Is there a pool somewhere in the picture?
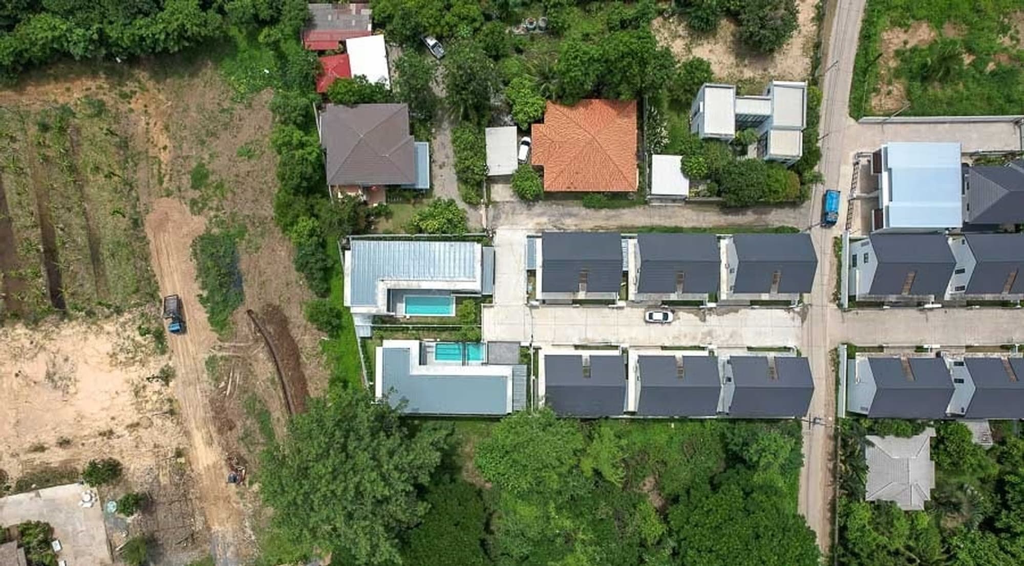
Yes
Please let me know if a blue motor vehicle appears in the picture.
Yes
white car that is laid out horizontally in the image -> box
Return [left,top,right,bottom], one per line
[645,311,673,324]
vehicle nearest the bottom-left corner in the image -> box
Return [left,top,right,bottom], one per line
[228,460,245,486]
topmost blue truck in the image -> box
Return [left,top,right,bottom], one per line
[817,189,838,228]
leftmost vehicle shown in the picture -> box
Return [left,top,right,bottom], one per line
[163,294,186,335]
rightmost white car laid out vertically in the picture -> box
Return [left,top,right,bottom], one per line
[517,136,532,164]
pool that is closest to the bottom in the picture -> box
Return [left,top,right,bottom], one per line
[433,342,485,362]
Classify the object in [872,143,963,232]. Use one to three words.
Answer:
building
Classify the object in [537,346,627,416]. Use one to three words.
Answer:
house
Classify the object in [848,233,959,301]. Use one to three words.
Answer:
house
